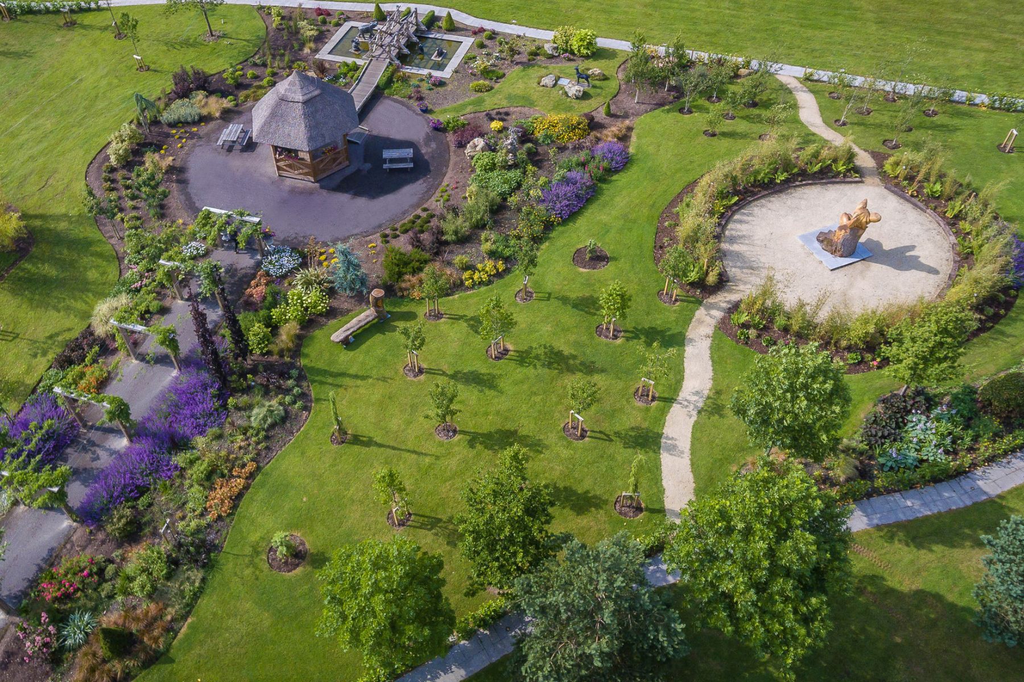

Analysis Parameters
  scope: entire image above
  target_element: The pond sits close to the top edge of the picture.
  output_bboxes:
[315,20,475,77]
